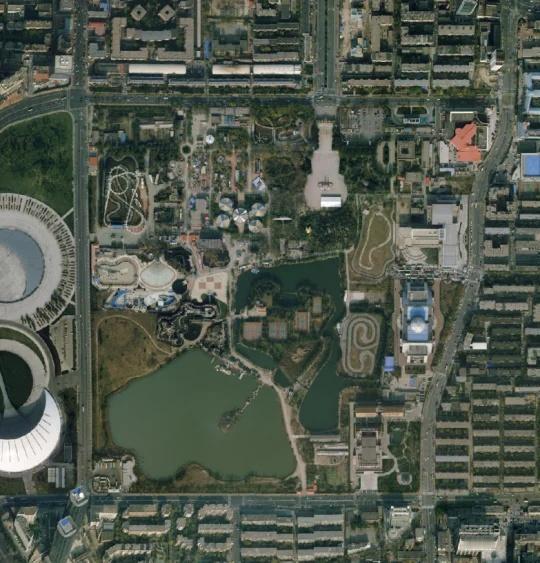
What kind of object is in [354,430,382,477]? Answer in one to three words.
building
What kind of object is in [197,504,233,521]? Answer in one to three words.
building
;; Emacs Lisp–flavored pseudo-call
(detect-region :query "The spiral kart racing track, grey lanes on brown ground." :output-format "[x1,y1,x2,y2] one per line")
[339,313,378,376]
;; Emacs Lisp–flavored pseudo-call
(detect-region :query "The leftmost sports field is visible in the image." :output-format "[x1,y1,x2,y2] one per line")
[0,350,34,418]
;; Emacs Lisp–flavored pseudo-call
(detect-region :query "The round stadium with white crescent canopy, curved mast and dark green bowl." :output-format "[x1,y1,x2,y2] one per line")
[0,320,62,473]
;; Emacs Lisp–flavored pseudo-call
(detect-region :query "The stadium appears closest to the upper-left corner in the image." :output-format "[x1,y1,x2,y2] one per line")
[0,193,78,332]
